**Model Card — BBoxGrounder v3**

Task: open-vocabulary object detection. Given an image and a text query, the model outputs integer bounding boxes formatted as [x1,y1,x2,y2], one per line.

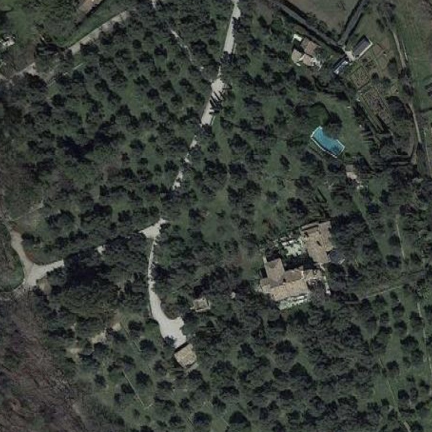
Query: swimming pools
[310,126,345,158]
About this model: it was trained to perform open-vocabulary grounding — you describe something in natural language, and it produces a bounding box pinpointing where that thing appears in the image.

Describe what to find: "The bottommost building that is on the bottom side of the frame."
[175,343,197,369]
